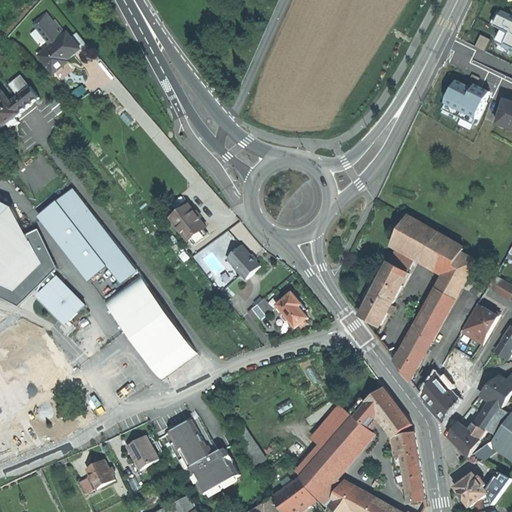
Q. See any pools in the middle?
Yes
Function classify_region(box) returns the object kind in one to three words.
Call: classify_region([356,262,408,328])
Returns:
barn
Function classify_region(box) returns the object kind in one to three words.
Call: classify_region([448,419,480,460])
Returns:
house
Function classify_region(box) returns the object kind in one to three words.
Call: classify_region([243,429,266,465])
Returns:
building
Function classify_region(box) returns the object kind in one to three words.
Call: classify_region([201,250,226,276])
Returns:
swimming pool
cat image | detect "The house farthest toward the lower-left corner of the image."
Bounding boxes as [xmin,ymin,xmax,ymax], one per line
[80,459,118,496]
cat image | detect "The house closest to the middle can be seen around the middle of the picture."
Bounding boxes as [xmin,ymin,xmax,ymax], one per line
[228,242,260,280]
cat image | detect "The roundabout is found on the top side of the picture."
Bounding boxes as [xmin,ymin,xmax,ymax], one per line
[209,119,394,266]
